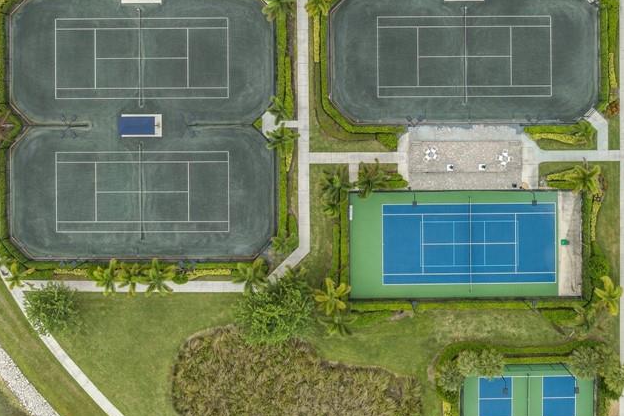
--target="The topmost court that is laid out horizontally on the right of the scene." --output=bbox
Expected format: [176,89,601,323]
[331,0,598,123]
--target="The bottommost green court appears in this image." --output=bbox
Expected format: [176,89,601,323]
[461,363,594,416]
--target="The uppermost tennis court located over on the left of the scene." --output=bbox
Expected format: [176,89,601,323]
[11,0,273,125]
